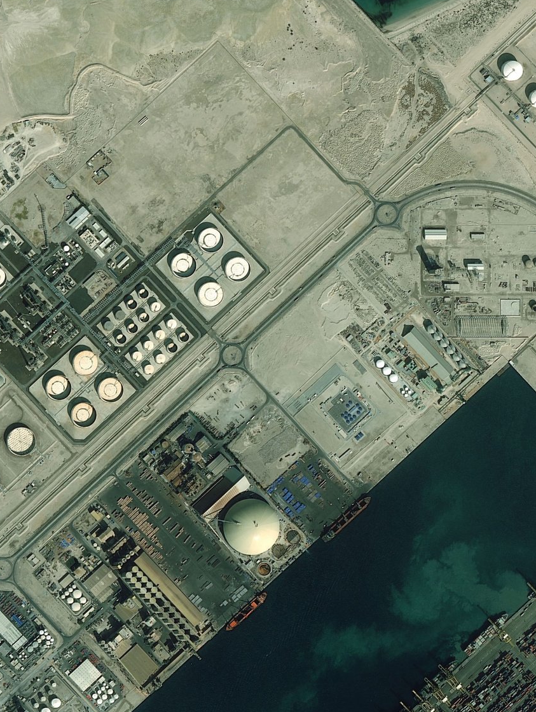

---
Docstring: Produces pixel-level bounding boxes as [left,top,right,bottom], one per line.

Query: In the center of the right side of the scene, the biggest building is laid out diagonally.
[402,326,455,383]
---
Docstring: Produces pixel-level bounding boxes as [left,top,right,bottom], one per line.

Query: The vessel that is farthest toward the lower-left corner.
[226,592,269,630]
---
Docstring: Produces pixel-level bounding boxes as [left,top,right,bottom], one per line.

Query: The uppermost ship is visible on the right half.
[320,496,372,544]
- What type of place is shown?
port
